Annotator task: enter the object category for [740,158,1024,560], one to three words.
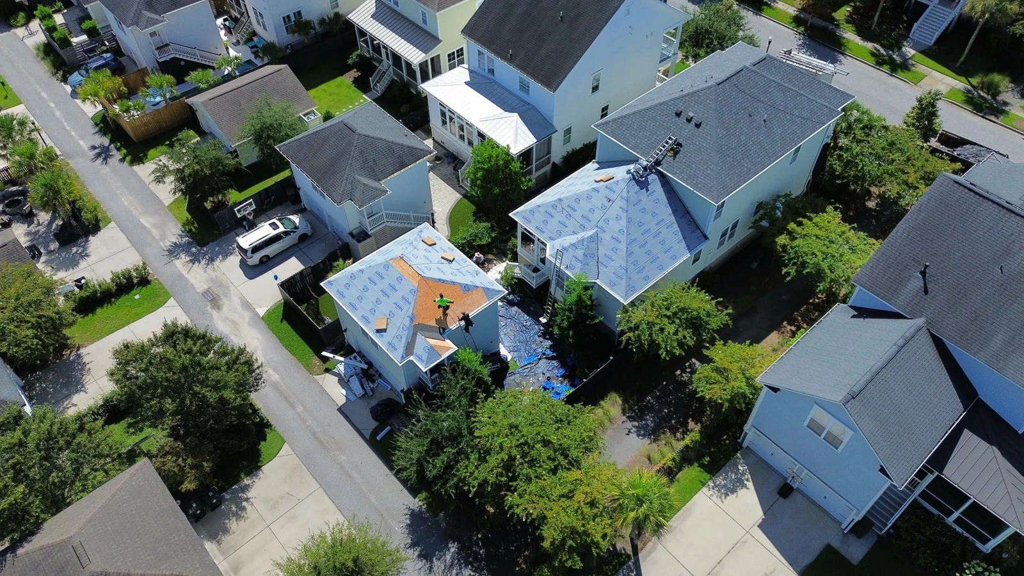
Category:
house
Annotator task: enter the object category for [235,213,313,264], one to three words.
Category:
car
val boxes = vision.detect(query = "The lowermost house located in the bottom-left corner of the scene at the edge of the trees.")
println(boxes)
[0,454,221,576]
